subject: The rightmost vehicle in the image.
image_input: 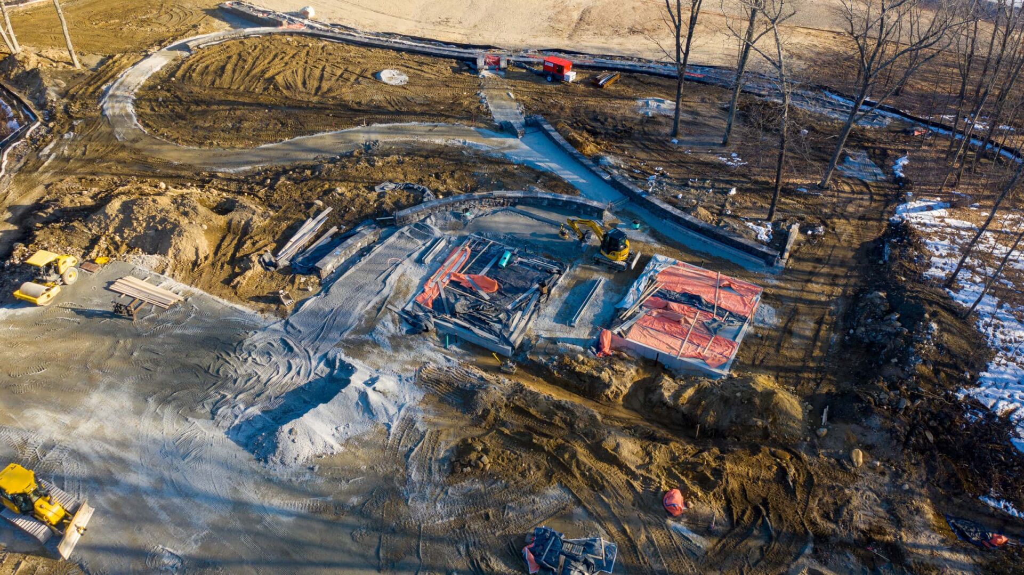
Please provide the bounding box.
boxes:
[567,211,644,276]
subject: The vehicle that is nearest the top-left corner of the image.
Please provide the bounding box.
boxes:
[2,256,75,307]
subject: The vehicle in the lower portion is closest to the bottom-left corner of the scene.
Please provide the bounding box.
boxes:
[0,466,91,555]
